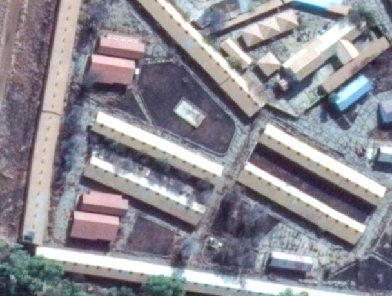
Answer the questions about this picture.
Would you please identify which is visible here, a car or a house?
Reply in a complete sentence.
It is a house that can be seen here.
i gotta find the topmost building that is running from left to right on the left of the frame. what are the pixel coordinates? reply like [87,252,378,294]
[98,32,145,58]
